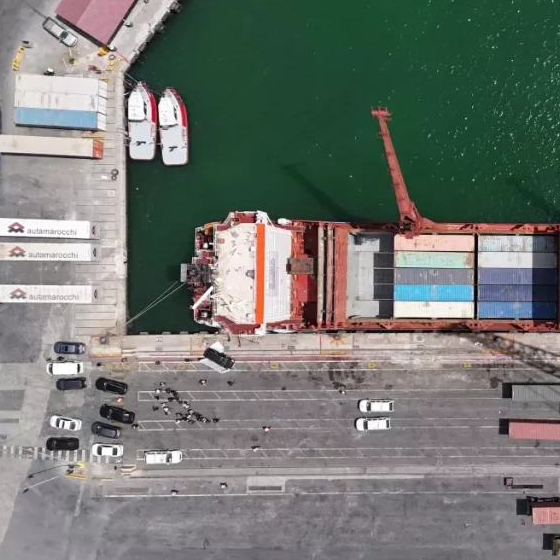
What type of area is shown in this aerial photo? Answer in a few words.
port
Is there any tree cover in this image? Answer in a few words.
No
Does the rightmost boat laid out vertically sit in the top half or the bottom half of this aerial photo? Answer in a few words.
top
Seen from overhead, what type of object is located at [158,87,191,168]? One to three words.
boat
